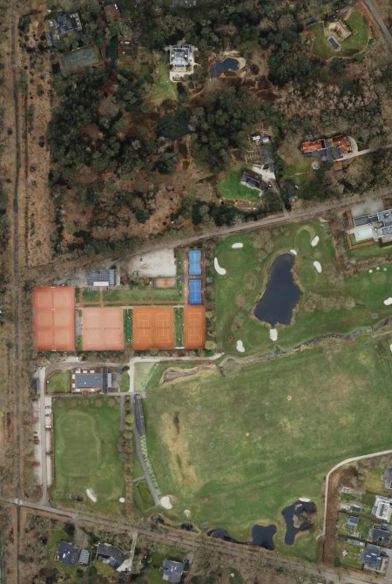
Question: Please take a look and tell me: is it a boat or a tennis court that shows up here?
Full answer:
The one in the frame is a tennis court.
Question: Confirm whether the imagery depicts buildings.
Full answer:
Yes, there is a building in the image.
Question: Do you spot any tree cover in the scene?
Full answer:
Yes, tree cover shows up in the scene.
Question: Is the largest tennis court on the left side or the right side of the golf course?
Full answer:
Relative to the golf course, the largest tennis court lies to the left.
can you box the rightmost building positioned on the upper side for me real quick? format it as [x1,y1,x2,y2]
[354,207,392,235]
